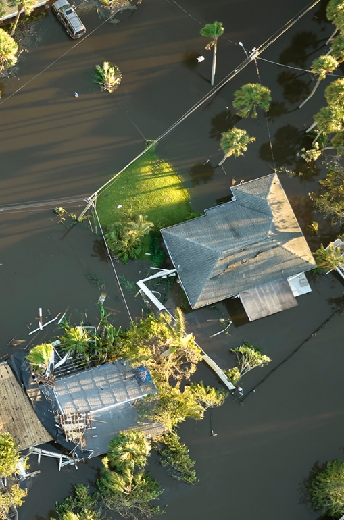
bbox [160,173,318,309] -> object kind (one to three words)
house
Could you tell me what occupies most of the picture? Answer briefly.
water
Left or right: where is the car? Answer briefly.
left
